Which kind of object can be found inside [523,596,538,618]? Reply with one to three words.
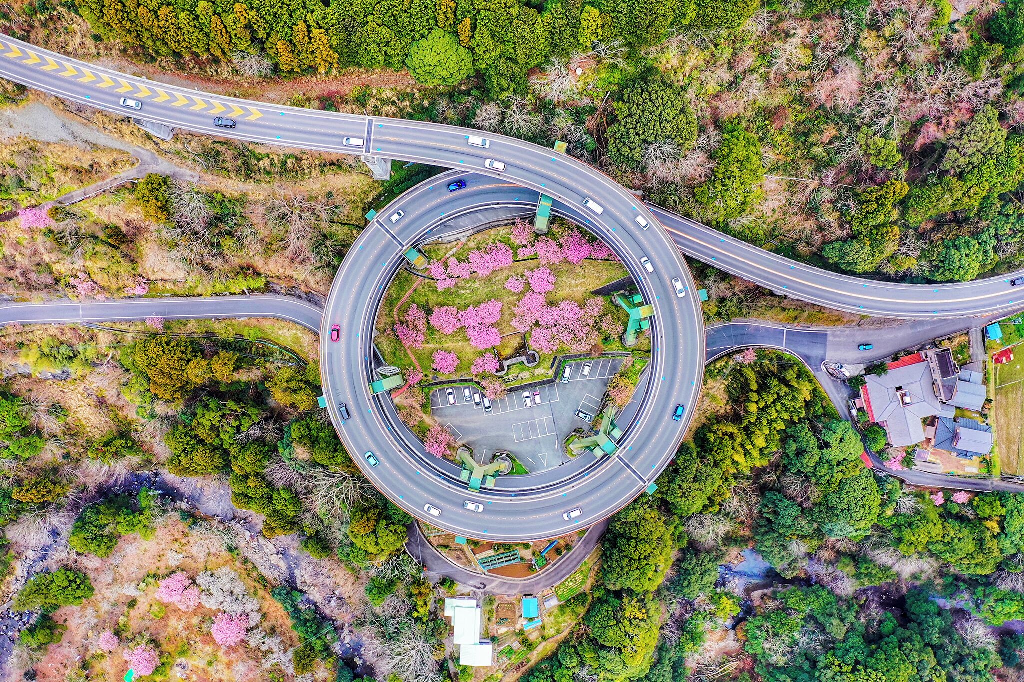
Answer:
shed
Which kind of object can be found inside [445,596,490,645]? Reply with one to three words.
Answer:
house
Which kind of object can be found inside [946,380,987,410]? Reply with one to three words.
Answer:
shed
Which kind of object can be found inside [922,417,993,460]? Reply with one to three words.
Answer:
house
